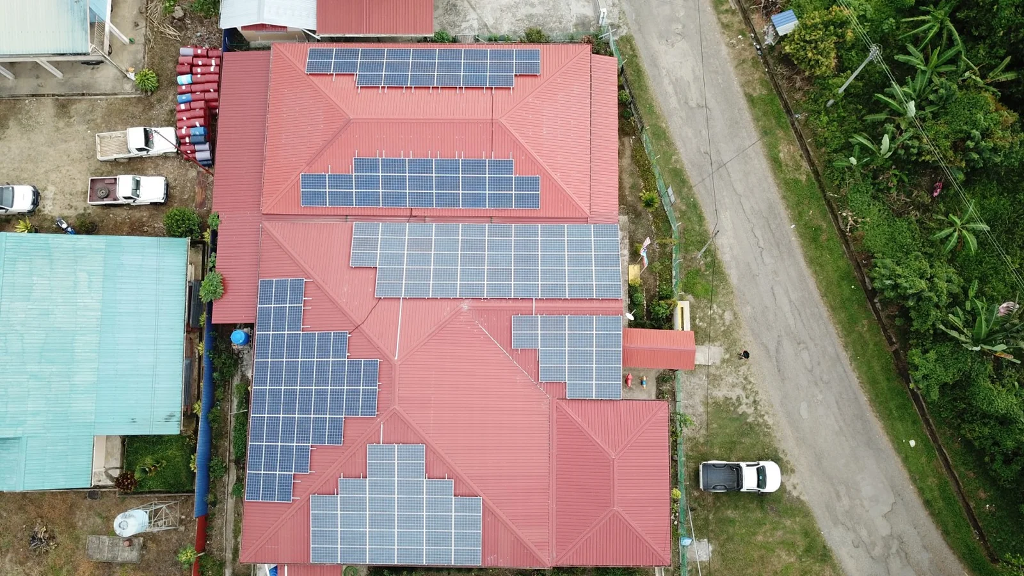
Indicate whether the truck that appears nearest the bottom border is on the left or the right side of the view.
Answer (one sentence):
The truck that appears nearest the bottom border is on the right side of the image.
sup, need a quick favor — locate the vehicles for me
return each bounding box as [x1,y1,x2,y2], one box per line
[97,127,179,162]
[86,176,170,208]
[0,183,42,214]
[51,214,72,235]
[698,460,782,495]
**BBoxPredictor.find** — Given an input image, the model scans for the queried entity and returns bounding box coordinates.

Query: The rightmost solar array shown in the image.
[512,314,621,400]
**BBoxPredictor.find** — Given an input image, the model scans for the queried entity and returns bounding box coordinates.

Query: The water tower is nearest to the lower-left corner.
[117,498,181,538]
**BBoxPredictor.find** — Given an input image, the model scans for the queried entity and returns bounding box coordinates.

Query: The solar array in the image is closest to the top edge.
[304,45,540,96]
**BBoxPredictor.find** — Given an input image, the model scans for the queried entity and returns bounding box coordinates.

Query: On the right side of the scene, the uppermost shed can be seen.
[767,3,799,40]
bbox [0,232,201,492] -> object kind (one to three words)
building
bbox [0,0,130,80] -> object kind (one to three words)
building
